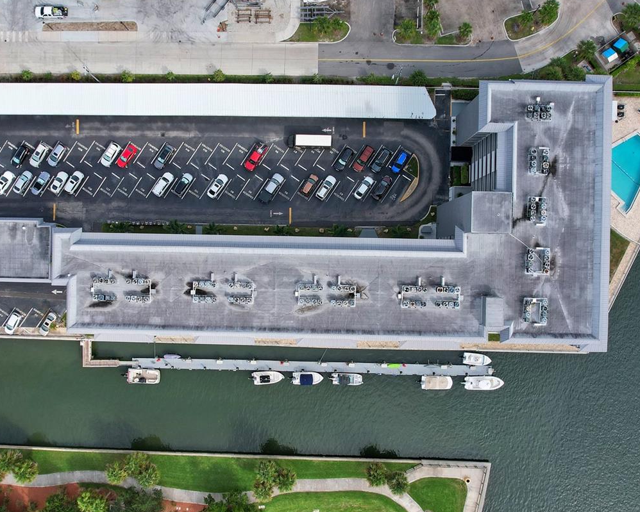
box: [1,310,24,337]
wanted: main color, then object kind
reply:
white car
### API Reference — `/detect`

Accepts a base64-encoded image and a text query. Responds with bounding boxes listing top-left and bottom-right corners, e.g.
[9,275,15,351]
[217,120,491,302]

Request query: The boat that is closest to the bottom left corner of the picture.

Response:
[123,370,160,384]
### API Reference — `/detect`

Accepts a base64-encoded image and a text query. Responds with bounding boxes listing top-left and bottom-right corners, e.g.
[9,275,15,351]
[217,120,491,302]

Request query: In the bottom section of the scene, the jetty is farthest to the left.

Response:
[79,342,119,368]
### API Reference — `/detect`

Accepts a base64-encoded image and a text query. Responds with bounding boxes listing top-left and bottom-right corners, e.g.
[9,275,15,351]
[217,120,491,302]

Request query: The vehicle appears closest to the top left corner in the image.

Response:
[33,4,68,19]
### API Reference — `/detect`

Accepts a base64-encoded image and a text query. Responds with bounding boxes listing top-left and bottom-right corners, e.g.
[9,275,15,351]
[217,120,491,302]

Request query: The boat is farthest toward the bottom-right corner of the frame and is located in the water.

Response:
[462,377,504,391]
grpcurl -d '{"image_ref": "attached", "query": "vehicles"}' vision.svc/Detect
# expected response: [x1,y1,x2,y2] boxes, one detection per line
[100,140,122,168]
[299,173,318,197]
[30,170,51,196]
[354,174,375,201]
[244,139,269,171]
[391,147,412,174]
[1,310,24,337]
[334,144,354,171]
[47,170,68,196]
[117,142,137,168]
[171,171,193,198]
[353,143,376,171]
[11,169,33,195]
[373,175,393,201]
[315,174,337,201]
[153,142,174,169]
[283,133,332,149]
[258,172,283,204]
[9,140,32,167]
[33,4,68,19]
[0,169,15,196]
[37,311,58,337]
[371,144,394,173]
[46,140,68,167]
[207,173,227,199]
[150,170,174,199]
[29,140,51,167]
[61,169,84,196]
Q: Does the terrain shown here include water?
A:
Yes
